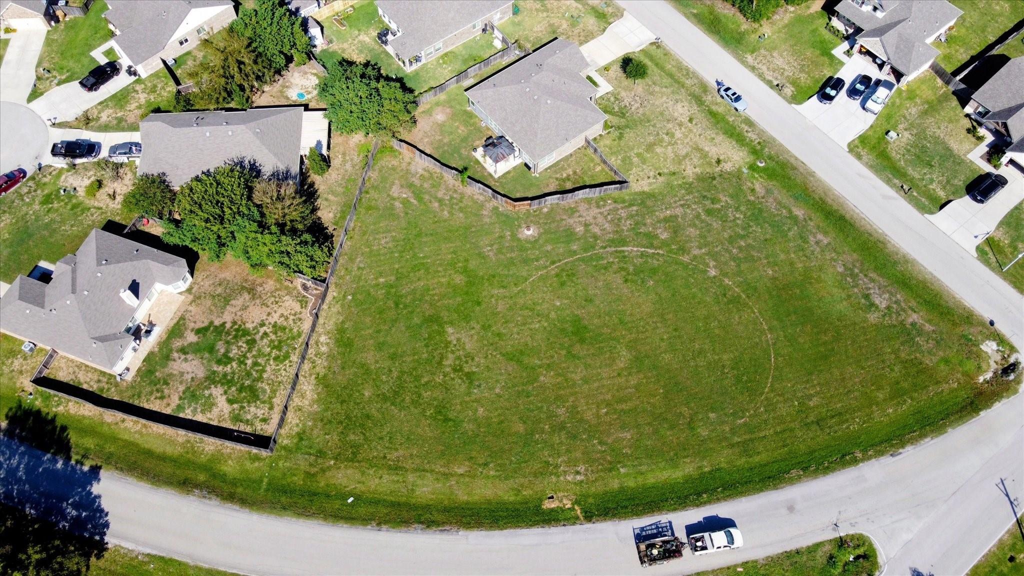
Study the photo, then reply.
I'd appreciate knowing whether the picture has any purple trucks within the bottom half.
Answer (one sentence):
No, within the bottom half there is no purple truck.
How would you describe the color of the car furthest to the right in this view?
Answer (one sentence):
The car furthest to the right is black.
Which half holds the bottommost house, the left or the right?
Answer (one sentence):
You can find the bottommost house on the left side of the picture.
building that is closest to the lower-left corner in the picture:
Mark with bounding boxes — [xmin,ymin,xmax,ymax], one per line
[0,228,193,374]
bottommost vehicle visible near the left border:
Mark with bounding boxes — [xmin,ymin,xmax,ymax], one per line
[0,167,31,194]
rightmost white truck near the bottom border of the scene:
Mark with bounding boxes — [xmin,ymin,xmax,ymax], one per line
[685,526,747,557]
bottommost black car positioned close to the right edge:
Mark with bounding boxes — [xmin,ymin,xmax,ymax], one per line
[971,173,1009,204]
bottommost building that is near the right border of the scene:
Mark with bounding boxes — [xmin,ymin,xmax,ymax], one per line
[964,53,1024,183]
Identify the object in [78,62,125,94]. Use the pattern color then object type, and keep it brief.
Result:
black truck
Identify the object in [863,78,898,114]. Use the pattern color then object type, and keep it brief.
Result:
white truck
